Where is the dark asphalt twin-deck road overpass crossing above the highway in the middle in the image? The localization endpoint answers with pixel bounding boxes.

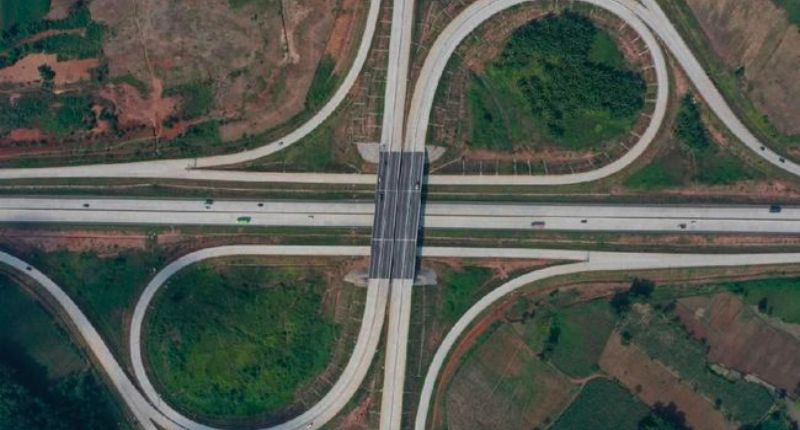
[369,152,424,279]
